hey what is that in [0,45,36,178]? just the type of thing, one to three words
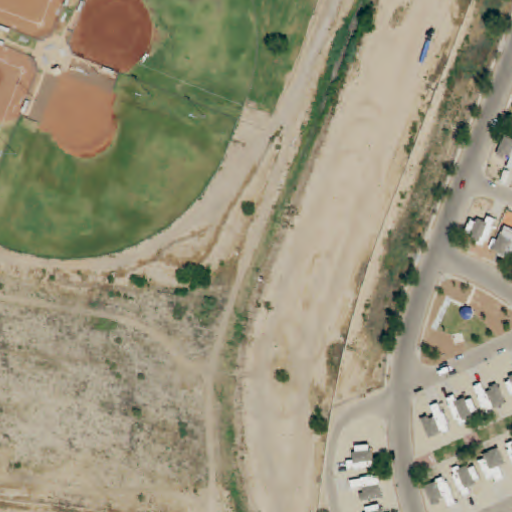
baseball field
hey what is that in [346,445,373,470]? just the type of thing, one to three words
house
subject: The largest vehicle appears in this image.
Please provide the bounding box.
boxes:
[418,30,432,61]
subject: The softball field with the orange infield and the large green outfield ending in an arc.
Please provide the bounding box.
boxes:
[0,69,243,258]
